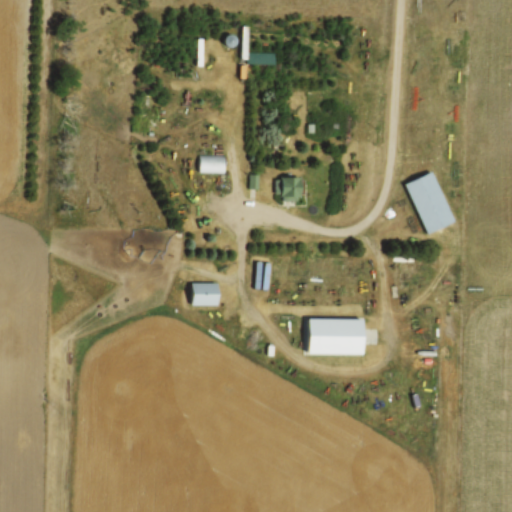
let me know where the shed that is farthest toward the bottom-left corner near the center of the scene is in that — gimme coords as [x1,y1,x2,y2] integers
[190,283,220,306]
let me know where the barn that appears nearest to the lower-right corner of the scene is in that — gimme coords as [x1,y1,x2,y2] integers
[306,318,366,356]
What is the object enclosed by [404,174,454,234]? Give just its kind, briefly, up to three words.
shed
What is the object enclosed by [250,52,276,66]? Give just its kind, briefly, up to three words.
shed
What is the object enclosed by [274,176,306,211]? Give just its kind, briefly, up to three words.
house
